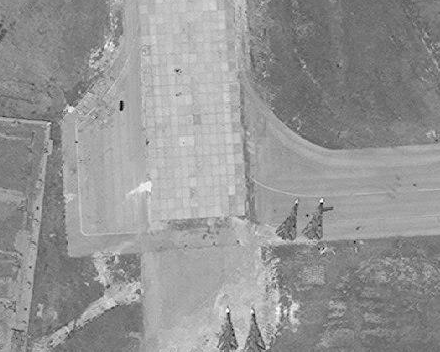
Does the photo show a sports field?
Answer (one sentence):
No, the picture doesn't show any sports field.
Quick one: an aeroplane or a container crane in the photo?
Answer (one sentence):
The image shows an aeroplane.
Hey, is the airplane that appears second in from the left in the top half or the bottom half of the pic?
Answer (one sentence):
You can find the airplane that appears second in from the left in the bottom half.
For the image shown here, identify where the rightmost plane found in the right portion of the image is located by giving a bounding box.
[303,200,322,242]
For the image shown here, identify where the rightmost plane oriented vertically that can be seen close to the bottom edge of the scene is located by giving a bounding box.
[245,309,265,351]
